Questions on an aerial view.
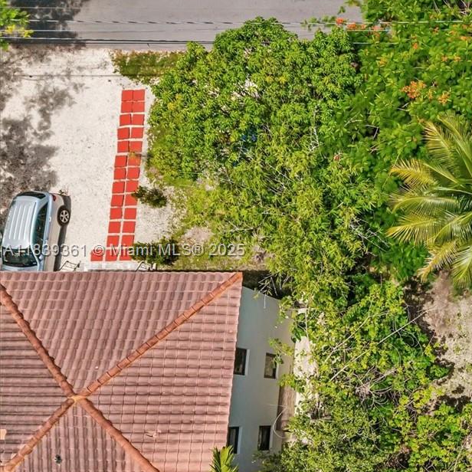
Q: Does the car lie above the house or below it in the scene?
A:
above it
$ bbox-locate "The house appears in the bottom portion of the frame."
[0,268,294,472]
